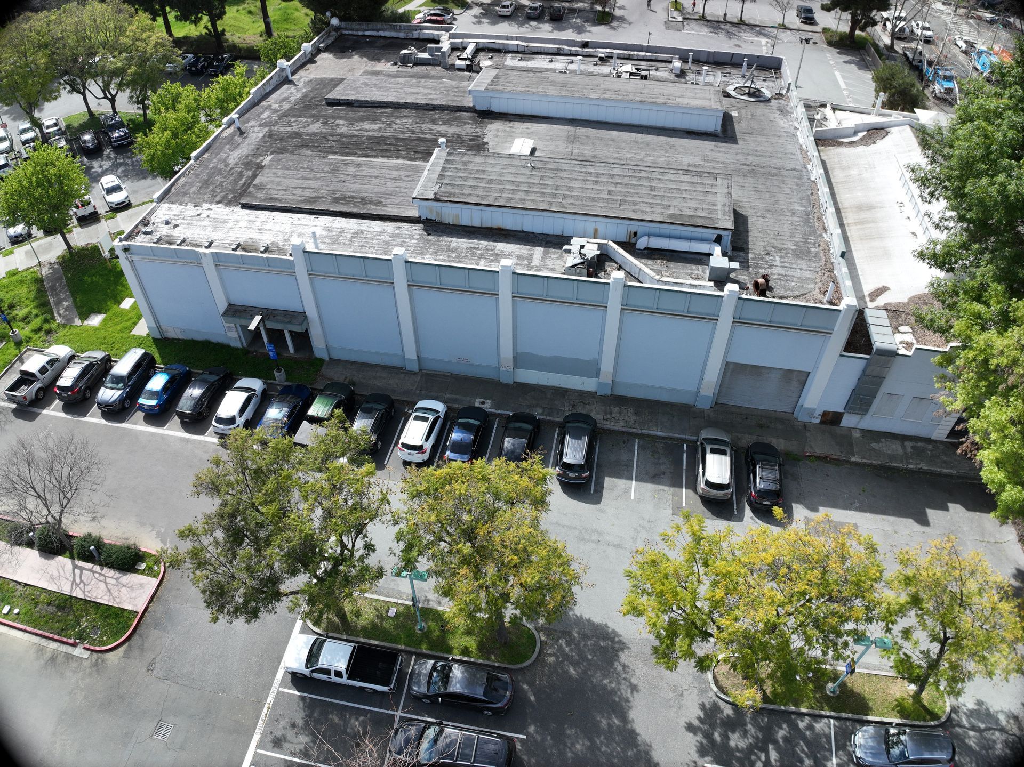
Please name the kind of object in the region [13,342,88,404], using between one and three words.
truck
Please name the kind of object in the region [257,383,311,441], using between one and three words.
car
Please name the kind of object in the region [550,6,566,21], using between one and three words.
car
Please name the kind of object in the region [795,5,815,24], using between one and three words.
vehicle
